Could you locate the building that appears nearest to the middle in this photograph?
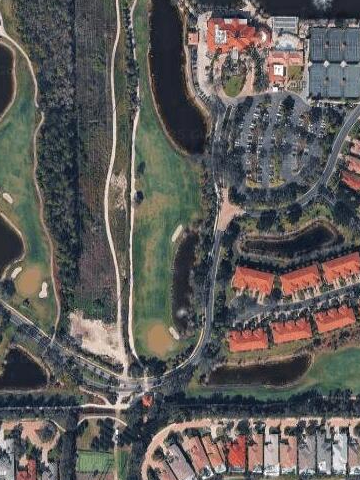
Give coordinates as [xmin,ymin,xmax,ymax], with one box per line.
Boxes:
[232,267,274,297]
